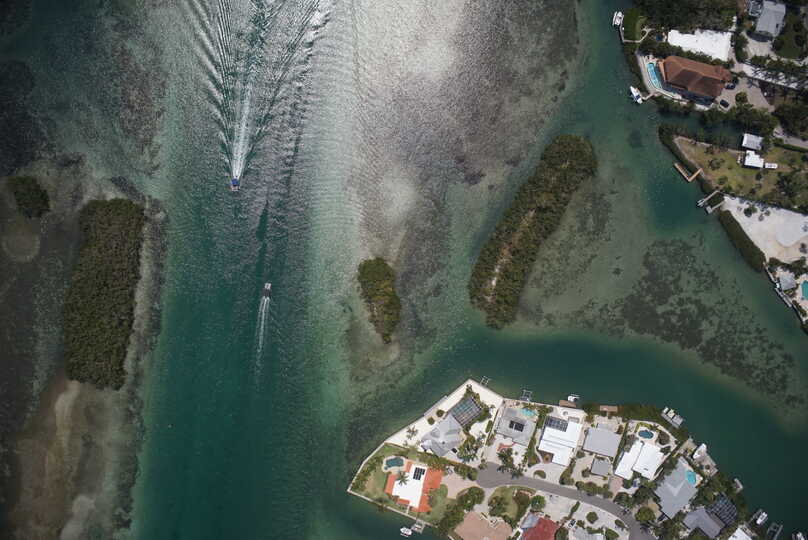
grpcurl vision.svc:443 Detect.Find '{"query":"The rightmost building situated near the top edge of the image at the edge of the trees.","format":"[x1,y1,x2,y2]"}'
[752,1,785,39]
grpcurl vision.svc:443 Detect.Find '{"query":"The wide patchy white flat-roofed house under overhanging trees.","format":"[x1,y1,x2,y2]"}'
[666,30,731,61]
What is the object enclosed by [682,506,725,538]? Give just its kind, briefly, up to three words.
house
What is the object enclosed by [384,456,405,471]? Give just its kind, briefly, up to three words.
swimming pool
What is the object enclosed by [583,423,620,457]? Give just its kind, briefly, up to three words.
house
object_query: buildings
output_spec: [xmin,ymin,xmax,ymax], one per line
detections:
[571,527,604,540]
[655,457,697,519]
[539,421,582,467]
[456,512,511,540]
[743,150,764,167]
[421,415,462,456]
[666,30,731,61]
[385,460,442,512]
[591,457,611,476]
[497,410,540,451]
[752,1,785,39]
[724,527,751,540]
[520,512,558,540]
[778,275,796,291]
[661,56,732,99]
[742,133,763,150]
[583,423,620,457]
[615,440,664,480]
[682,506,725,538]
